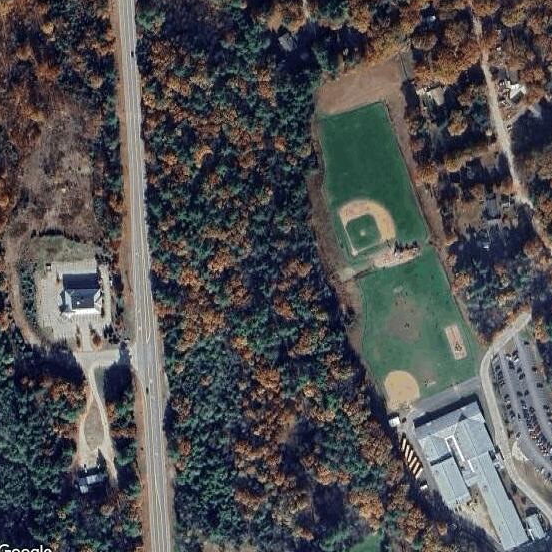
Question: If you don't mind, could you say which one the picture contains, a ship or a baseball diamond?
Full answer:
There is a baseball diamond in the scene.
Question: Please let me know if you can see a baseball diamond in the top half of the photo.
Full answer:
Yes, a baseball diamond can be seen in the top half of the photo.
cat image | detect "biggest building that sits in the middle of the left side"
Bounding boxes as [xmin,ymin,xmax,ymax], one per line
[64,288,101,316]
